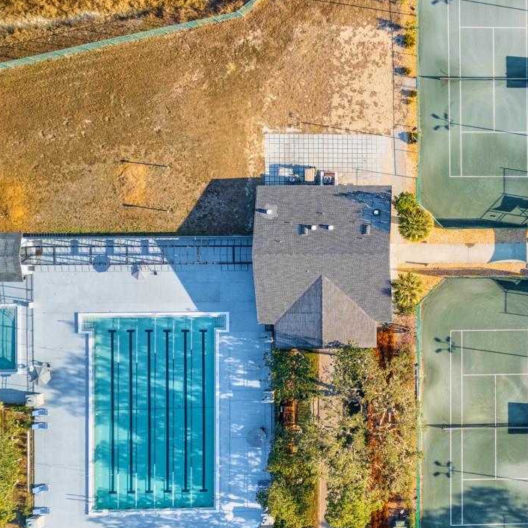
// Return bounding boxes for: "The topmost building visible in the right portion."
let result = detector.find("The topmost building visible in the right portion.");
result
[258,186,392,349]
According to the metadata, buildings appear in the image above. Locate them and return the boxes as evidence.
[0,234,33,280]
[258,186,392,349]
